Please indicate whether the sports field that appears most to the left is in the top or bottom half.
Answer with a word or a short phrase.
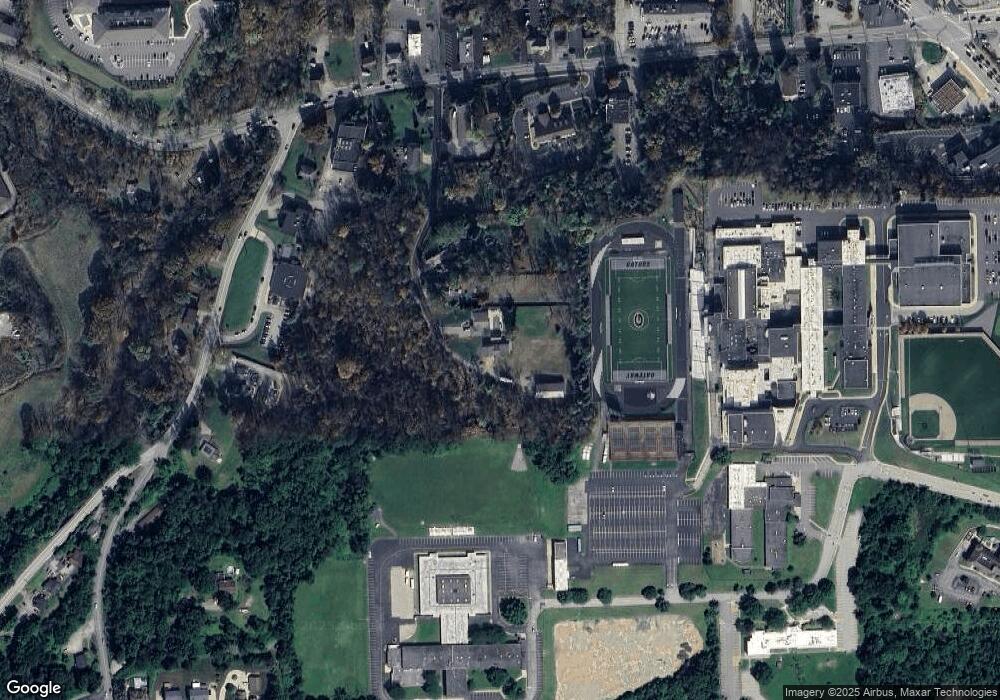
bottom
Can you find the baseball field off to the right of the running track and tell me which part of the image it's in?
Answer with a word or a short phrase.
right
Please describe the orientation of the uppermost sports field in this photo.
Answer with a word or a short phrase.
vertically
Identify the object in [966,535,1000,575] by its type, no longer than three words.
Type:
building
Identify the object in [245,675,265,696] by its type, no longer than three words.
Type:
house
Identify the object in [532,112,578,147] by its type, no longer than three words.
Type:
building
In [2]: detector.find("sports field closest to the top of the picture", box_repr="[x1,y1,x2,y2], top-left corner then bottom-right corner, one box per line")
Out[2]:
[605,256,672,384]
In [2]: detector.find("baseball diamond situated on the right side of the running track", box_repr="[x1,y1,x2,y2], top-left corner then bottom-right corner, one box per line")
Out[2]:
[898,333,1000,444]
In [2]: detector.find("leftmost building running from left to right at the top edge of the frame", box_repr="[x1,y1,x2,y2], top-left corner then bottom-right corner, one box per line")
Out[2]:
[93,3,171,40]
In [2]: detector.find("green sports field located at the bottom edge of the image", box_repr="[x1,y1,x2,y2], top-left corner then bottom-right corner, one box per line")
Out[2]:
[293,556,369,700]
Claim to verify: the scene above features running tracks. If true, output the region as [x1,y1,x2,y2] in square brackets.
[592,222,689,476]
